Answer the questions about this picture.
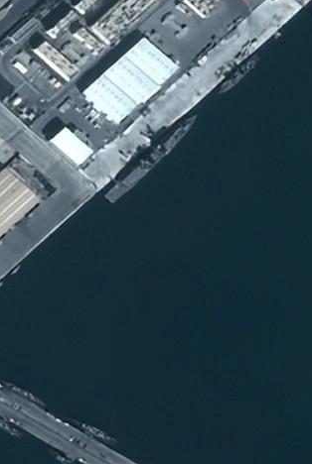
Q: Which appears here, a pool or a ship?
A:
ship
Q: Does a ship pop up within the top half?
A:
Yes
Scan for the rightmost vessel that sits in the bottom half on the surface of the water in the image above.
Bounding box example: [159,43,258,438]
[70,416,119,445]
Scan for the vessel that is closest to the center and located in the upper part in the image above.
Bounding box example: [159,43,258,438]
[106,114,199,204]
